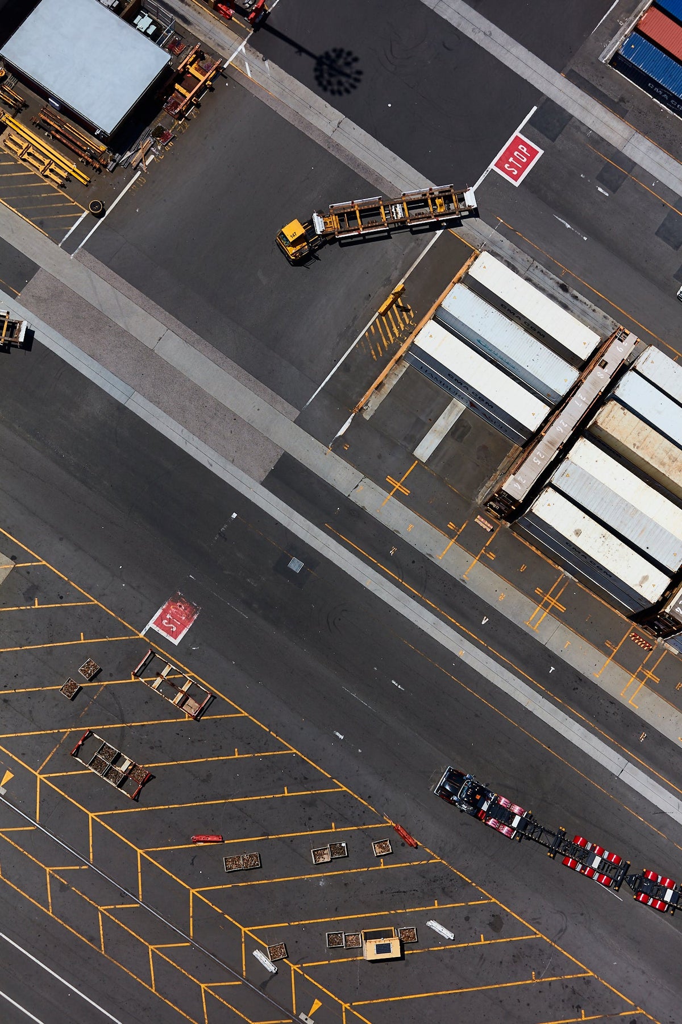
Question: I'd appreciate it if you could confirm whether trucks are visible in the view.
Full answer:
Yes, there is a truck in the image.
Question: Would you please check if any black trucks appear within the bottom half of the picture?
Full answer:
Yes, a black truck can be seen within the bottom half of the picture.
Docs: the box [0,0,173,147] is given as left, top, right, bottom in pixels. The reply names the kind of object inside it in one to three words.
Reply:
shed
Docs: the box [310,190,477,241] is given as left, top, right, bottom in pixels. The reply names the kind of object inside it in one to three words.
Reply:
trailer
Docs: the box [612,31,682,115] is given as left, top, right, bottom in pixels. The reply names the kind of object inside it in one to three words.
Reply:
shipping container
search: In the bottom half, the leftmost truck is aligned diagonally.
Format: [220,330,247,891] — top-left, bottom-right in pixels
[434,766,527,840]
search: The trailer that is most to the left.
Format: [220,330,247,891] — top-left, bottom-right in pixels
[0,308,31,347]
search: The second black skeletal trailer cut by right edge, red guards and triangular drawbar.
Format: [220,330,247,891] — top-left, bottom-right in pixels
[626,869,682,913]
